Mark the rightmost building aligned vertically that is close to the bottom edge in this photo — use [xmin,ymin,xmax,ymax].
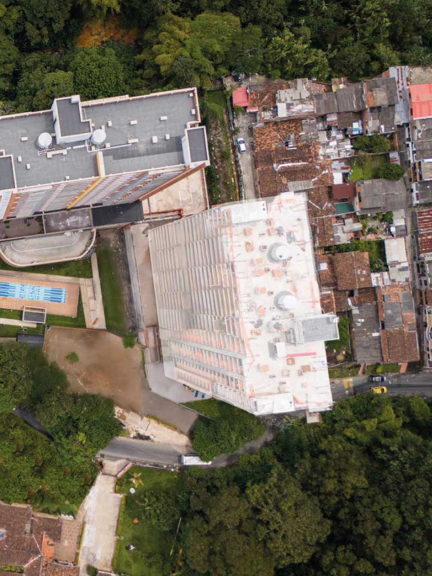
[56,518,82,563]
